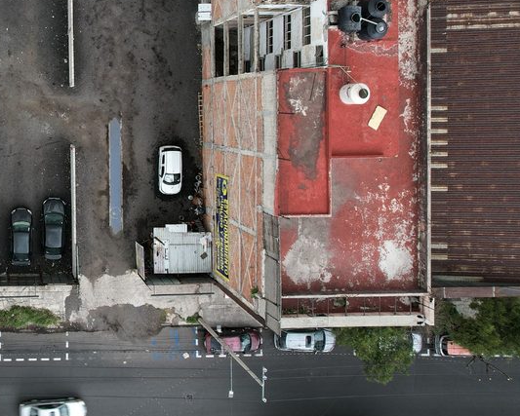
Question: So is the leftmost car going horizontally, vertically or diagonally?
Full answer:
The leftmost car is oriented vertically.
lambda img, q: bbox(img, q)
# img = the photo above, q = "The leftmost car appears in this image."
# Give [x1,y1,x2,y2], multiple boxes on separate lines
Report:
[8,205,35,265]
